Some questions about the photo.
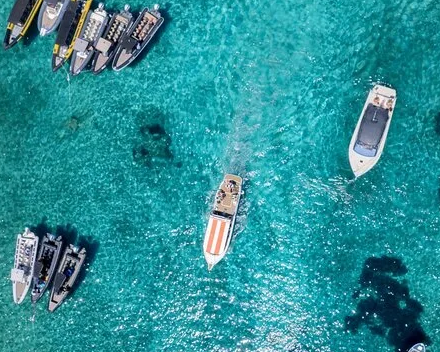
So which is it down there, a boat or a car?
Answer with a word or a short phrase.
boat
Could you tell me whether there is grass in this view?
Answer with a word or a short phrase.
No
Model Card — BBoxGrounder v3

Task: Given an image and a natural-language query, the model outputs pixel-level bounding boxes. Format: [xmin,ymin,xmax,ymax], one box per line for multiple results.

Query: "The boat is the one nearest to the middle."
[204,172,243,271]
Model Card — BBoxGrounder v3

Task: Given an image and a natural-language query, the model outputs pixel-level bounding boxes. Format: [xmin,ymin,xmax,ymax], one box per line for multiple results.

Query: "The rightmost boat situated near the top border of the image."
[113,7,163,69]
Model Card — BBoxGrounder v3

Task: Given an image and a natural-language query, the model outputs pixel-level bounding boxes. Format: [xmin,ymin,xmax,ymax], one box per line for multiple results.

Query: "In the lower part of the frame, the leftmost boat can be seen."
[11,228,40,303]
